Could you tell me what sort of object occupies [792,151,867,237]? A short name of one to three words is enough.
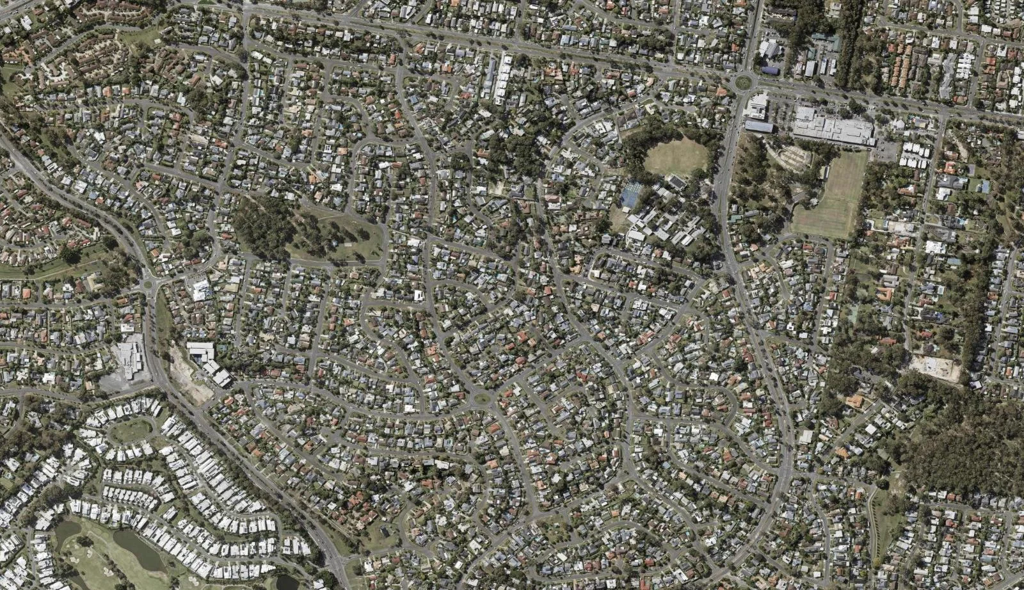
sports field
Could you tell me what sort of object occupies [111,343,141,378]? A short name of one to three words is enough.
building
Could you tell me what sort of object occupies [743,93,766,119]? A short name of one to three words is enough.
building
